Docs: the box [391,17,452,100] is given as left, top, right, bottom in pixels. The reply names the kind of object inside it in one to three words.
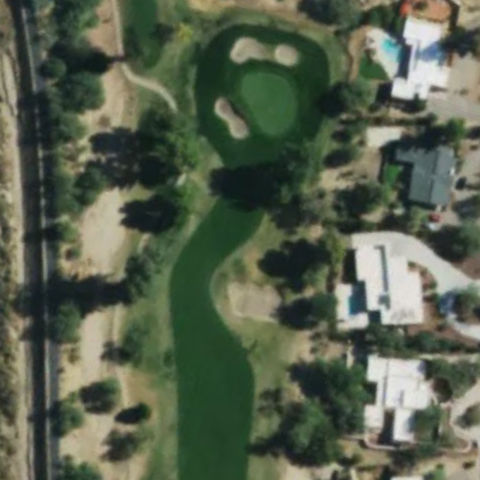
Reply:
house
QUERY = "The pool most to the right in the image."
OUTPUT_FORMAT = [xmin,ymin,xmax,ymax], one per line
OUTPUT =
[376,35,404,65]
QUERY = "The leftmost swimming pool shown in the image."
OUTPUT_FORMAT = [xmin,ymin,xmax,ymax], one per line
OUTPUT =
[348,282,368,316]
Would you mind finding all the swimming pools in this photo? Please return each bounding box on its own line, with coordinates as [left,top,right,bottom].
[348,282,368,316]
[376,35,404,65]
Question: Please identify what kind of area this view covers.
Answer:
golf course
